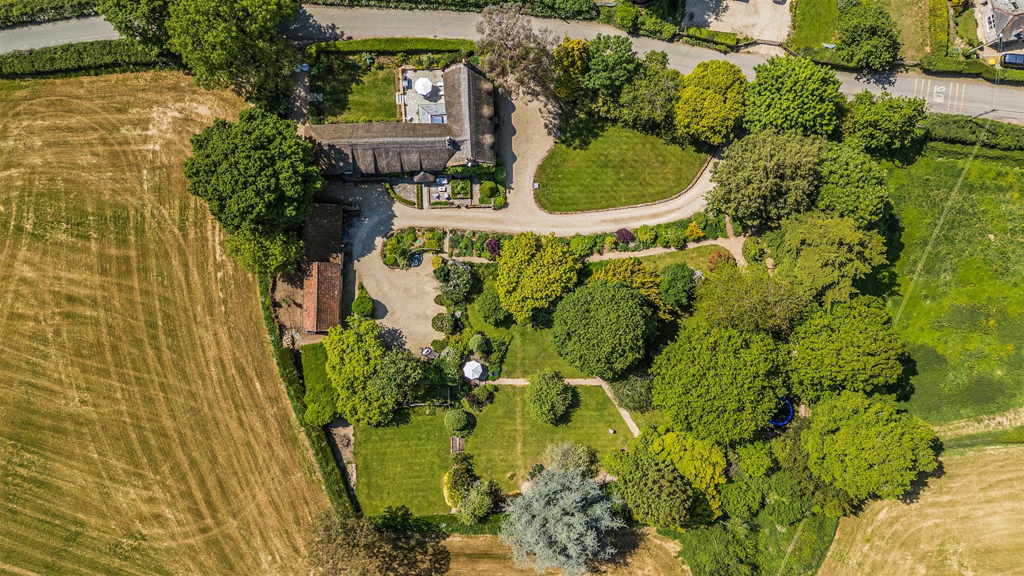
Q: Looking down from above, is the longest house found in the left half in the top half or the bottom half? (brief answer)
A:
top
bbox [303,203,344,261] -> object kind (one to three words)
barn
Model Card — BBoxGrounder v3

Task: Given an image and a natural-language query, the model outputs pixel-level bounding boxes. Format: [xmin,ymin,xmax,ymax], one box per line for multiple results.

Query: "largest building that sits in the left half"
[305,61,504,184]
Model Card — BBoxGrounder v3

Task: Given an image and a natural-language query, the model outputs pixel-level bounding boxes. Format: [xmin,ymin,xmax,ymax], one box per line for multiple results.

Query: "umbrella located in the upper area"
[415,78,434,97]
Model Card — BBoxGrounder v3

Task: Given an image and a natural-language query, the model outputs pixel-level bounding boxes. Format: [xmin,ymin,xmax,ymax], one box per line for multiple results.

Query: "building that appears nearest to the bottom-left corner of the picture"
[303,261,343,333]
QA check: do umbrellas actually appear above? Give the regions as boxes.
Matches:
[464,359,482,378]
[415,78,434,97]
